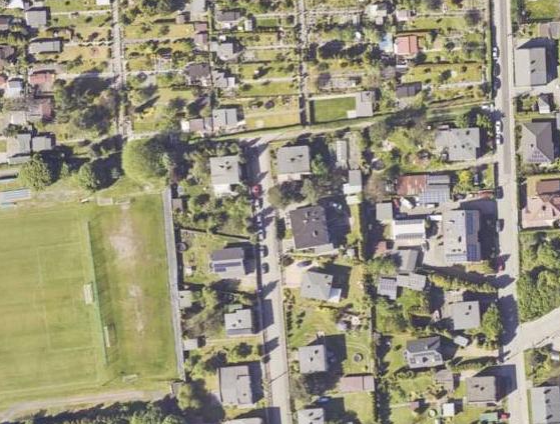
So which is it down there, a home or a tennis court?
home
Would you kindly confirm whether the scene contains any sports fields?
Yes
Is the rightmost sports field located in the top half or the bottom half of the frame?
bottom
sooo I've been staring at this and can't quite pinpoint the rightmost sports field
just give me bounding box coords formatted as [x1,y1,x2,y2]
[86,193,178,384]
